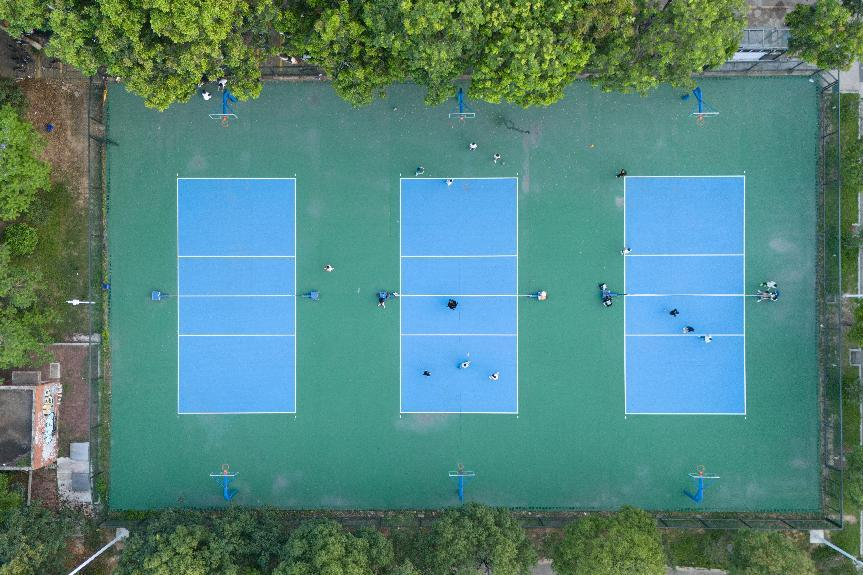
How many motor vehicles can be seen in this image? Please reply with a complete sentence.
No motor vehicles are visible.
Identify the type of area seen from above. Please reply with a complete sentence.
This looks like a sports ground.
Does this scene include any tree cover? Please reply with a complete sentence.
Yes, the picture does contain tree cover.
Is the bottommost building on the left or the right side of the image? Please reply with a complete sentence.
The bottommost building appears in the left half of the scene.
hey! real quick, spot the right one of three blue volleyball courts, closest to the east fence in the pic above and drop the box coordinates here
[624,171,747,420]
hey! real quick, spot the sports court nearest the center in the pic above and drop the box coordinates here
[400,173,518,417]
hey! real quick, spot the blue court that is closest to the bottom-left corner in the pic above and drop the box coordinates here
[178,174,296,418]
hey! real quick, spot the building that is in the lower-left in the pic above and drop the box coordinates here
[0,380,59,470]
